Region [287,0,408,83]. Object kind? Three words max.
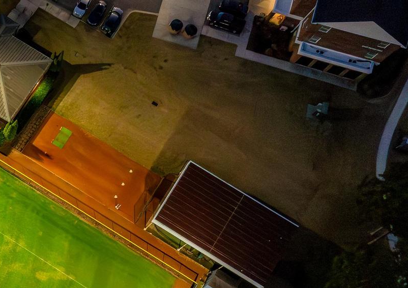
house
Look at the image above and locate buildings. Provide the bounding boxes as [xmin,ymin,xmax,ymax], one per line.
[287,0,408,83]
[145,161,299,288]
[0,14,53,123]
